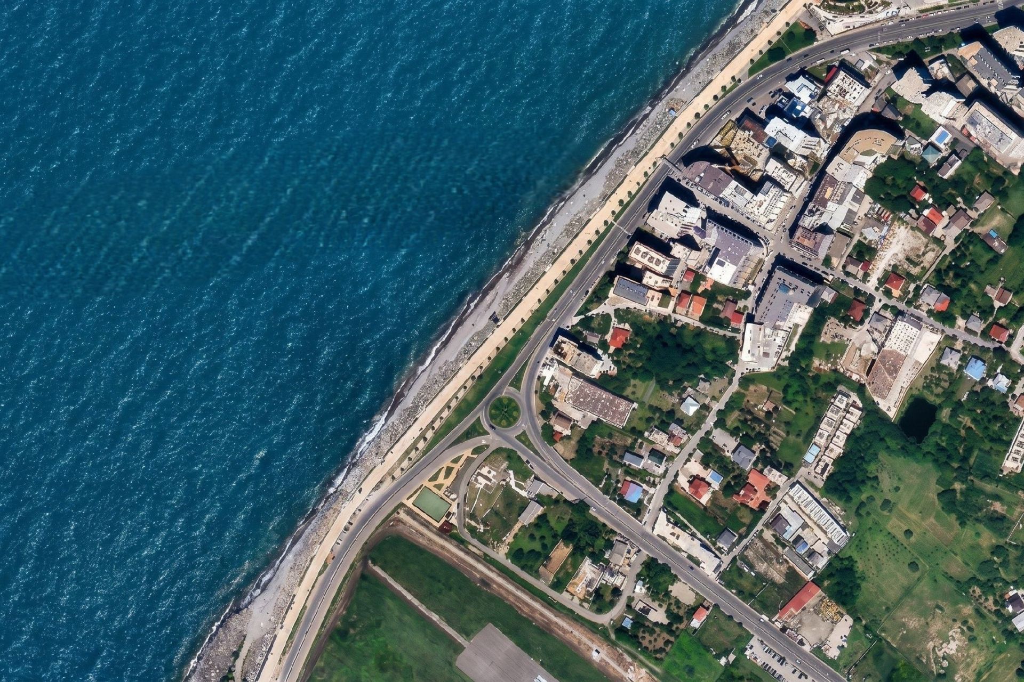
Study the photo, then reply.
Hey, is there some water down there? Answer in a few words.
Yes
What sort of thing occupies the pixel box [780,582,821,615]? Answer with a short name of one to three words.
house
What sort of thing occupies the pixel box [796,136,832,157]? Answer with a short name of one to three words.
building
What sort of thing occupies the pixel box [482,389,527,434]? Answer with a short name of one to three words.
roundabout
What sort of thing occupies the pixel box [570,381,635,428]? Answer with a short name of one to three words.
building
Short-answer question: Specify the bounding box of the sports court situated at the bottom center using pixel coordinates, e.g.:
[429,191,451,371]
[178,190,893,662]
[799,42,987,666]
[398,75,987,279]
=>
[412,486,452,523]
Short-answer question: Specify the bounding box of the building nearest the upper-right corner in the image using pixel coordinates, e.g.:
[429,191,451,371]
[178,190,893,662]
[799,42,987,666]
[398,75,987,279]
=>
[993,26,1024,61]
